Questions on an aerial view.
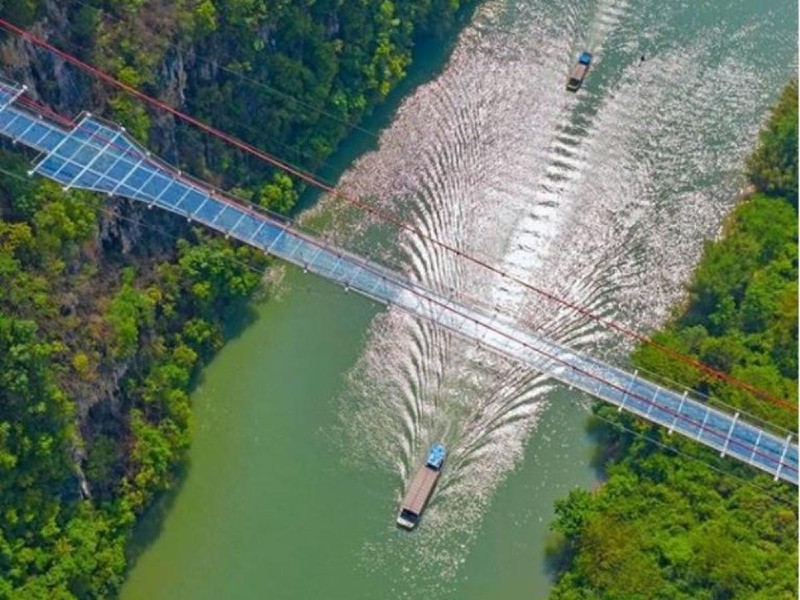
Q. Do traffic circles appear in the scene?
No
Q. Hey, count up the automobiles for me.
0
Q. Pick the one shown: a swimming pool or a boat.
boat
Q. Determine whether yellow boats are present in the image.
No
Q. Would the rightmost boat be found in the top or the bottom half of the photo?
top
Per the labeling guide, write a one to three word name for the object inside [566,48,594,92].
boat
